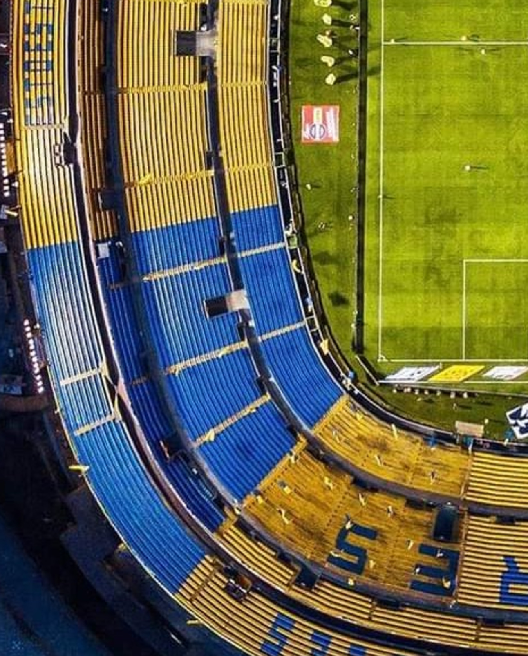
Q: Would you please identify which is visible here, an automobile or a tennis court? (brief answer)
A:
automobile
